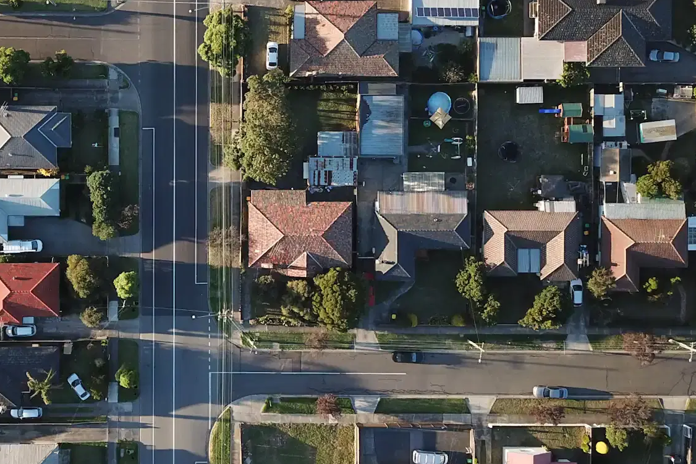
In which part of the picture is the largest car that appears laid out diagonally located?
bottom left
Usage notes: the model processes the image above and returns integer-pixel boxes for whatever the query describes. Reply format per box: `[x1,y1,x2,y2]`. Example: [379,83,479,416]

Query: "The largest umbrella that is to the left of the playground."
[427,108,449,131]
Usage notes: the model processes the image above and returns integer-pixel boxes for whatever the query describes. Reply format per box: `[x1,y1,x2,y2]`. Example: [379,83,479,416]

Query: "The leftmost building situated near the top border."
[288,0,411,78]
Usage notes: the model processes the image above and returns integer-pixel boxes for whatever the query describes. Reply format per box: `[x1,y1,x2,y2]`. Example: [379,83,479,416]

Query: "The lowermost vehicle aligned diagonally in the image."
[66,370,91,404]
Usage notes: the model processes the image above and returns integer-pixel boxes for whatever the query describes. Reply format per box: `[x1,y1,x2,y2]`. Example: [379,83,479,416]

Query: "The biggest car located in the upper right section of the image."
[646,49,680,64]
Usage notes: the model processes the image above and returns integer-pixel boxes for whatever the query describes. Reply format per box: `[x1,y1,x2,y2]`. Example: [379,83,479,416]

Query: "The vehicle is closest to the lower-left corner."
[10,405,44,421]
